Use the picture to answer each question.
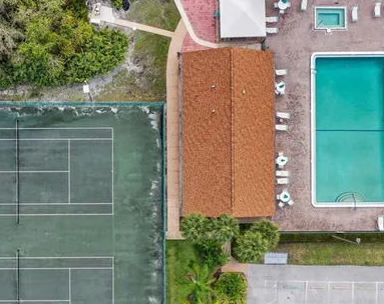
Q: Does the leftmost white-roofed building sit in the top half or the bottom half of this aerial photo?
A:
top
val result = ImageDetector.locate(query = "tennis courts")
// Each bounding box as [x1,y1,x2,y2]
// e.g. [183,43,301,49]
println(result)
[0,236,164,304]
[0,108,164,236]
